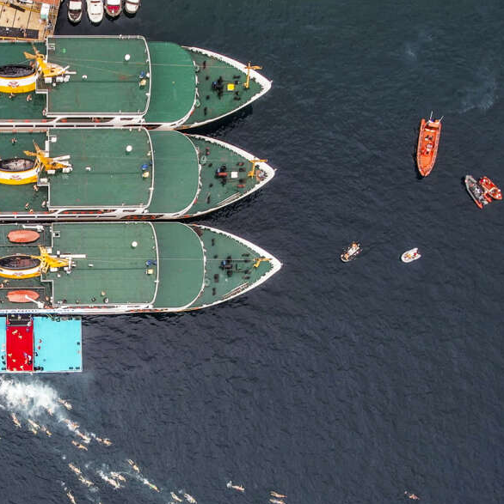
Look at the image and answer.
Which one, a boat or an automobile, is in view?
boat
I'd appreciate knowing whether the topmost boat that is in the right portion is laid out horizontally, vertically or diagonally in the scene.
vertically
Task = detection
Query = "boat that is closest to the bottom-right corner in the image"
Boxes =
[402,247,421,261]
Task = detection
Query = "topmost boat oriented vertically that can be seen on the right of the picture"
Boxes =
[416,114,438,175]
